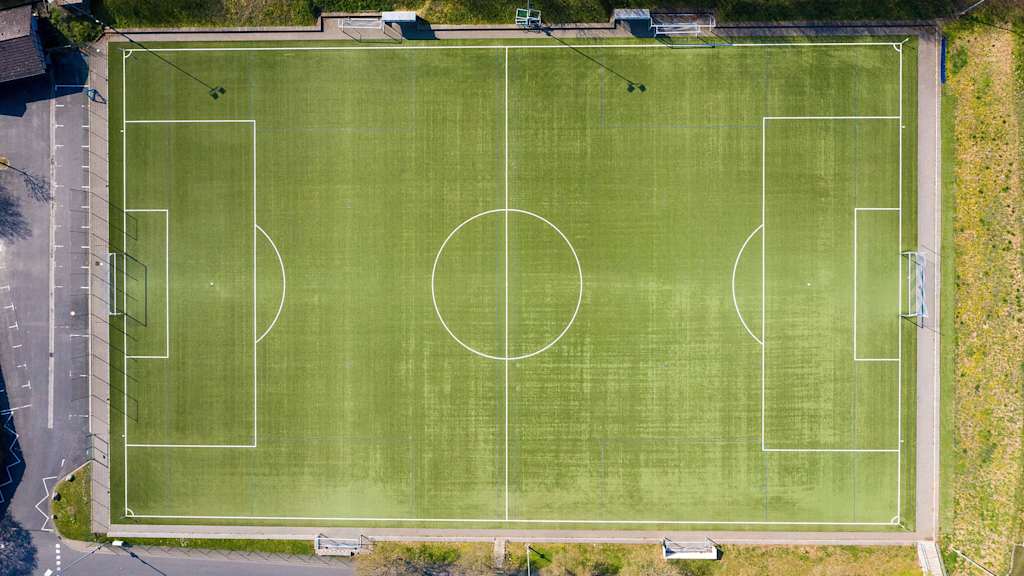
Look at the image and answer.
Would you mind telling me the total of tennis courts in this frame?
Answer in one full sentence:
No tennis courts are visible.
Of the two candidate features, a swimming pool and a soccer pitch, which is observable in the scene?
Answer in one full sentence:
I can see a soccer pitch in this picture.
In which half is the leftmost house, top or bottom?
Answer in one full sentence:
The leftmost house sits in the top half of the picture.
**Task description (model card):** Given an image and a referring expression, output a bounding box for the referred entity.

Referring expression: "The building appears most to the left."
[0,5,52,87]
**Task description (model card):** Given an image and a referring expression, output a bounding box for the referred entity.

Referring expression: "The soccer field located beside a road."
[109,36,918,532]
